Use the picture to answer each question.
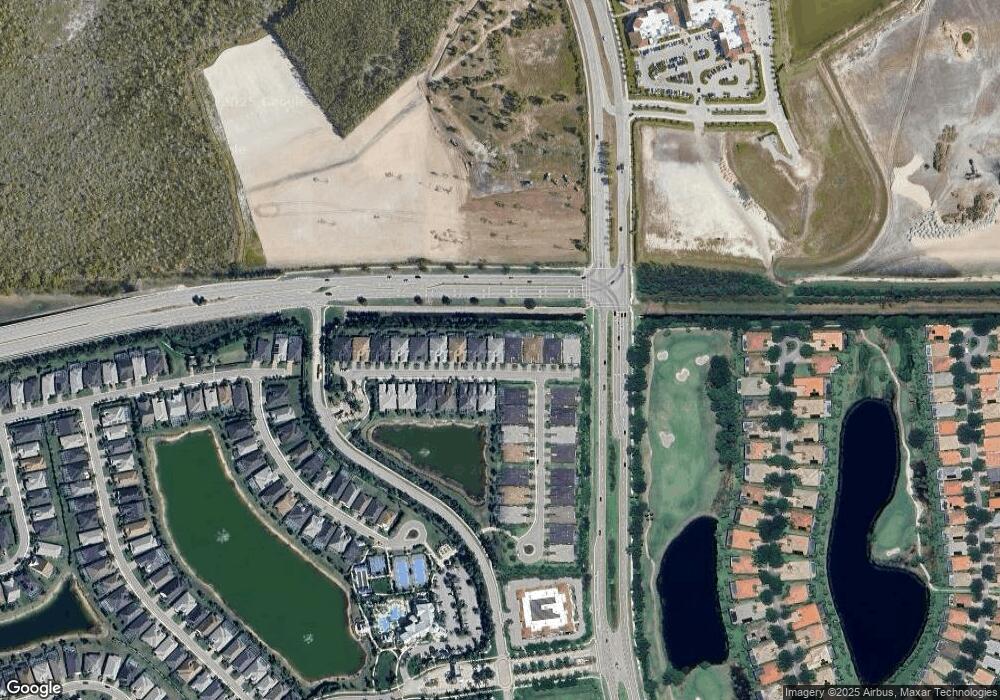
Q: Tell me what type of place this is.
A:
residential area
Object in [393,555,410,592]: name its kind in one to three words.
tennis court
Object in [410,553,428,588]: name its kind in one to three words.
tennis court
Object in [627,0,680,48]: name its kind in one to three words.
building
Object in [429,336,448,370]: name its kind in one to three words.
house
